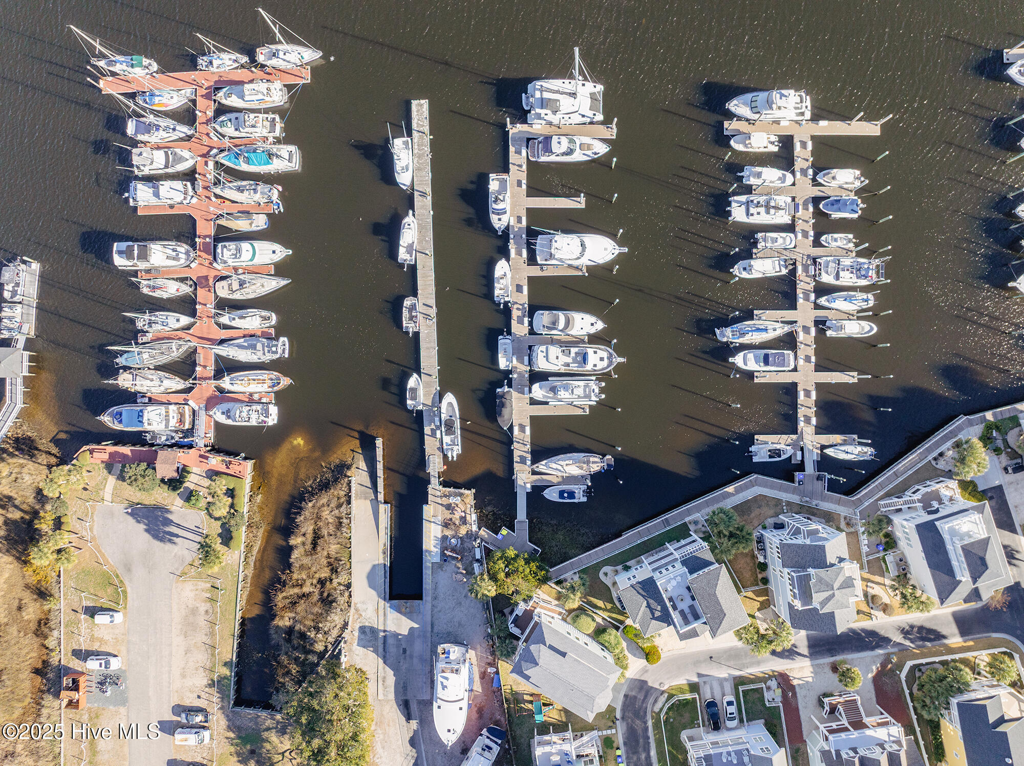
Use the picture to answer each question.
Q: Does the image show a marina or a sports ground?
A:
marina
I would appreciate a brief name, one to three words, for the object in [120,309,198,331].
boat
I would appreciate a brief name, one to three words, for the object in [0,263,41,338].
pier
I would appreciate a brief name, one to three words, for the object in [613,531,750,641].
house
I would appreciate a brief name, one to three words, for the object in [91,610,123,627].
car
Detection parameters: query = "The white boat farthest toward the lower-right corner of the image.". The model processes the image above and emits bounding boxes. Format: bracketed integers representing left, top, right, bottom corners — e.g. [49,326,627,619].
[821,444,883,462]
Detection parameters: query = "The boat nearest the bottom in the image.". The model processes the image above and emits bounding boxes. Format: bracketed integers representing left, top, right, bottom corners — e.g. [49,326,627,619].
[464,723,508,766]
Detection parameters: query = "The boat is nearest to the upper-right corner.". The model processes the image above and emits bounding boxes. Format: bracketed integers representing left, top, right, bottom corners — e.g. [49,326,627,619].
[1000,65,1024,88]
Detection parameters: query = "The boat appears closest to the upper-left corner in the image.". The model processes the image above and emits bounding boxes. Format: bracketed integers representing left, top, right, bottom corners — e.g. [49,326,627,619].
[88,26,161,74]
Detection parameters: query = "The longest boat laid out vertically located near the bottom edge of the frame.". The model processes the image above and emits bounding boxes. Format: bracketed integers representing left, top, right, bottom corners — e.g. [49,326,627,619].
[432,638,471,752]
